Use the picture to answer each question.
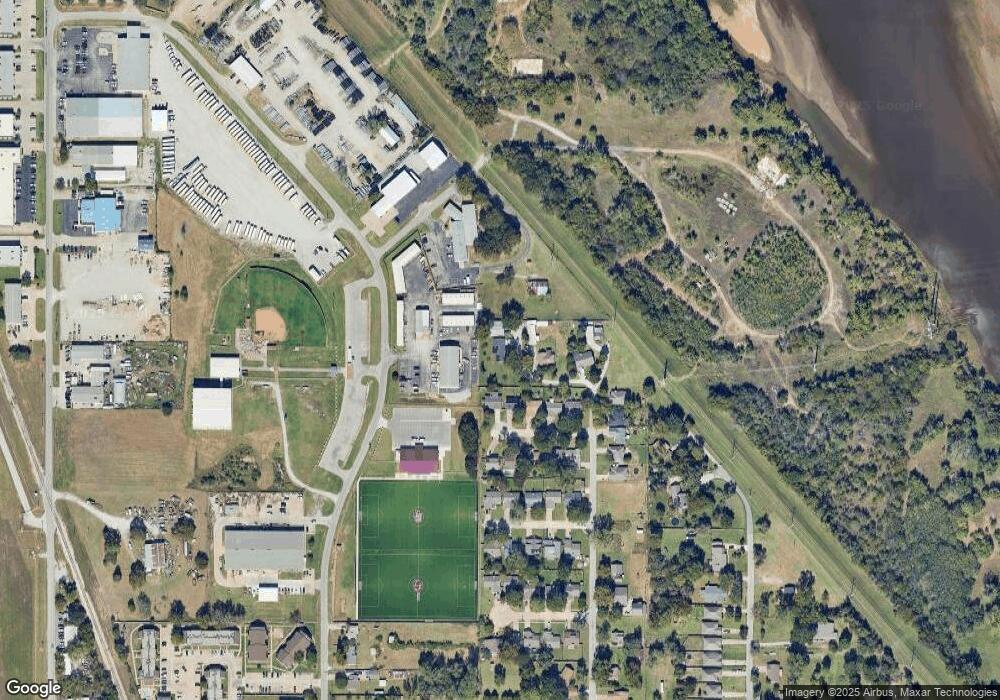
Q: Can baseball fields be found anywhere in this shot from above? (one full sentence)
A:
Yes, there is a baseball field in the image.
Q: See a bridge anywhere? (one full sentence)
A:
No, there appears to be no bridge in this shot.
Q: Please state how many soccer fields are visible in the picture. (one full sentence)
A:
There are 2 soccer fields in the image.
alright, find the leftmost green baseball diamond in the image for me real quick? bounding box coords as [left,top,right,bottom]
[214,266,327,367]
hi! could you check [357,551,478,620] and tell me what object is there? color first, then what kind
green soccer field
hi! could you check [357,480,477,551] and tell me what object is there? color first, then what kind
green soccer field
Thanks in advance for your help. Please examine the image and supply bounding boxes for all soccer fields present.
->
[357,480,477,551]
[357,551,478,620]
